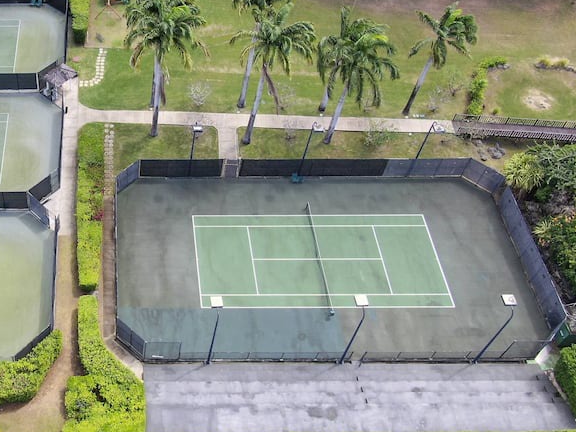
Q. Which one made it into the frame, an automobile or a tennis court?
tennis court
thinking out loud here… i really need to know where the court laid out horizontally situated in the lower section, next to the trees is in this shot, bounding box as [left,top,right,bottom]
[117,176,562,363]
